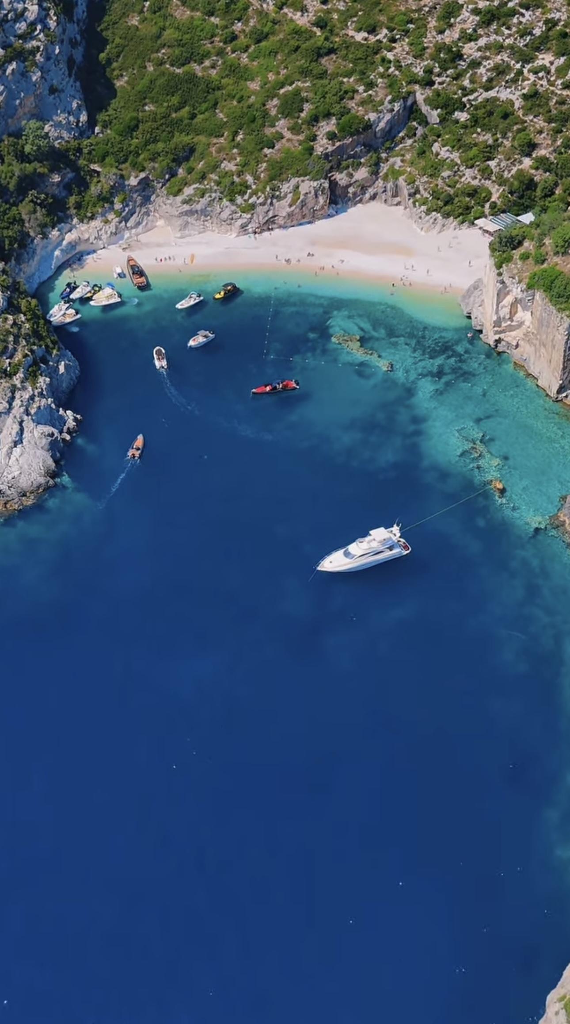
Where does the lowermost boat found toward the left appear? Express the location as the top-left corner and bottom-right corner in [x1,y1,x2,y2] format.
[126,431,144,460]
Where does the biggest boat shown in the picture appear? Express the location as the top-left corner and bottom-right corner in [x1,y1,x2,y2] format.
[292,530,414,600]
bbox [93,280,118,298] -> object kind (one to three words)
boat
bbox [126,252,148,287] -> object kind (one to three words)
boat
